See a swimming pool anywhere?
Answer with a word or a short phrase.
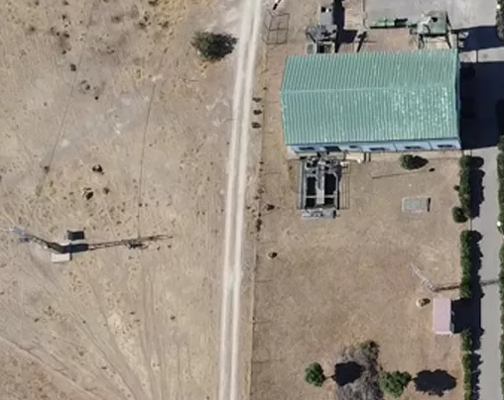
No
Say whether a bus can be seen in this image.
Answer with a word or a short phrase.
No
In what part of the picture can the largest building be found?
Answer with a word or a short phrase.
top right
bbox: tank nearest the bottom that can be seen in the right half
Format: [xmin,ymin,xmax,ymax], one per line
[299,153,341,222]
